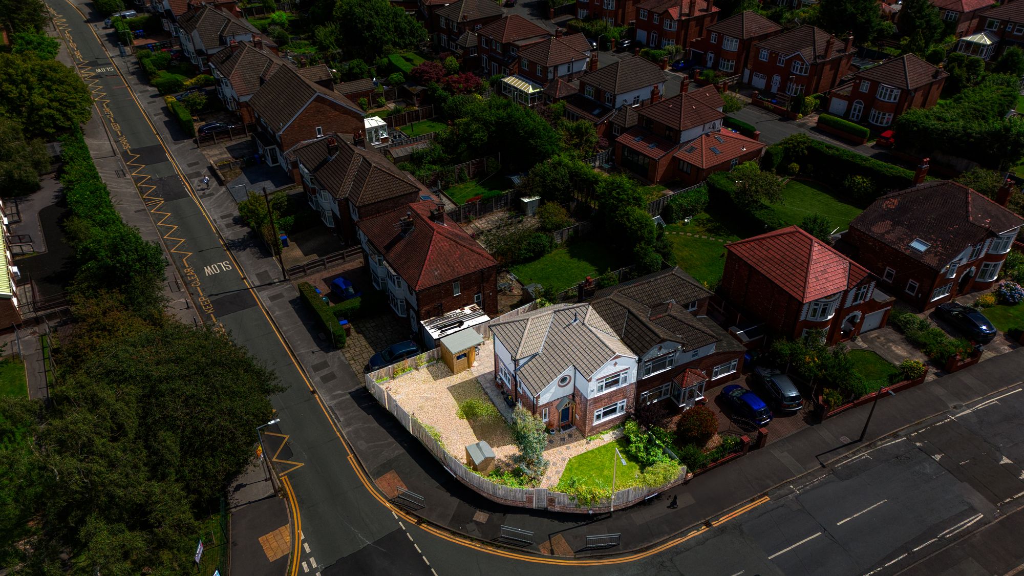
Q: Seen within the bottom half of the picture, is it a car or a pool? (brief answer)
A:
car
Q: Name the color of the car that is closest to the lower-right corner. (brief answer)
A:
black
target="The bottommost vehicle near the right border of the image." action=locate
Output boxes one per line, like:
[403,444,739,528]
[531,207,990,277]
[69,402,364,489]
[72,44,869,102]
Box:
[939,306,998,343]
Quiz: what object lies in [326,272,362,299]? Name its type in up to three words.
car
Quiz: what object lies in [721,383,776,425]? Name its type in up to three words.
car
